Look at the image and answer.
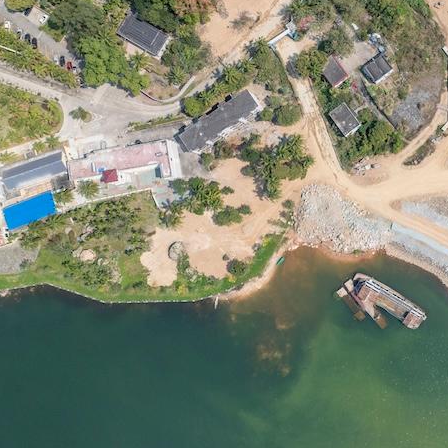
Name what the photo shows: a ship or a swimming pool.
ship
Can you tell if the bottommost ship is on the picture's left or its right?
right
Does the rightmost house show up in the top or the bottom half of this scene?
top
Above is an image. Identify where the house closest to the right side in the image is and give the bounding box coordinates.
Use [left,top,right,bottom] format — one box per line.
[360,55,393,84]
